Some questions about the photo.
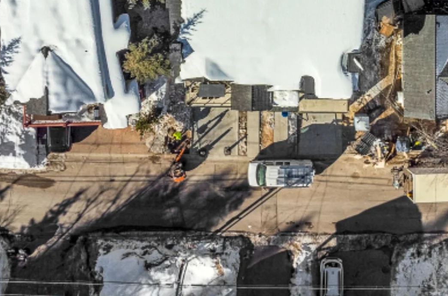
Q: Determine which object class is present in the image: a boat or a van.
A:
van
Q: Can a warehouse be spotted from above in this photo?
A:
No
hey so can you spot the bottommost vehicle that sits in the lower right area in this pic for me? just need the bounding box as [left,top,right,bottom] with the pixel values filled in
[320,257,345,296]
